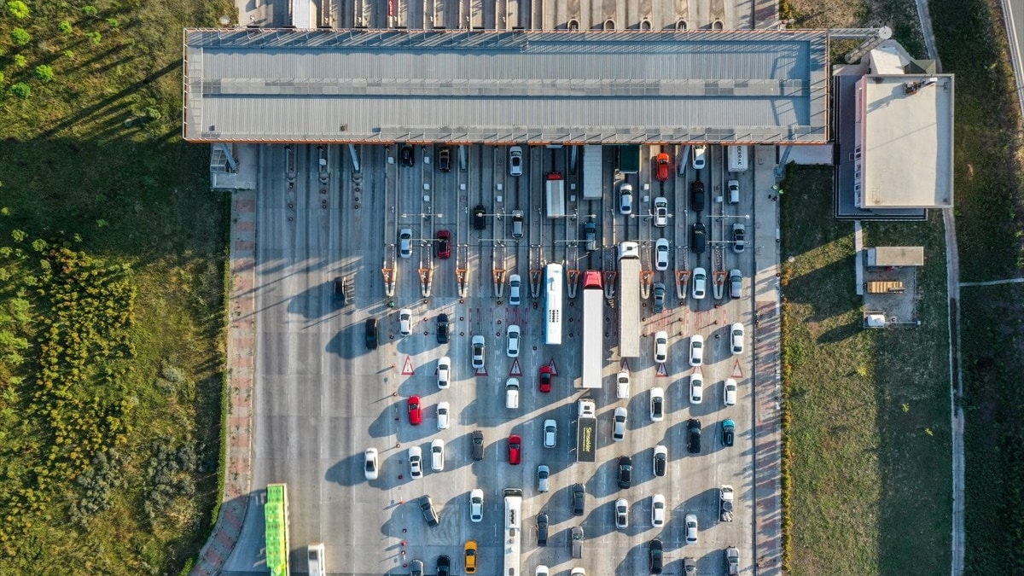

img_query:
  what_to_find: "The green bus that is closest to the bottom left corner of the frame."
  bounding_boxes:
[265,480,291,576]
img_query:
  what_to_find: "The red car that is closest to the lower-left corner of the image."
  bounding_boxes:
[407,395,422,425]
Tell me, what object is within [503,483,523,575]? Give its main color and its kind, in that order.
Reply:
white bus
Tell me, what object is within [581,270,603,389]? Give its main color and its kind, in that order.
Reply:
white truck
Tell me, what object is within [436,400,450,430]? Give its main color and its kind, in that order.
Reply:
white car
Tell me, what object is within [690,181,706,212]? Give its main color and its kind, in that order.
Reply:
black car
